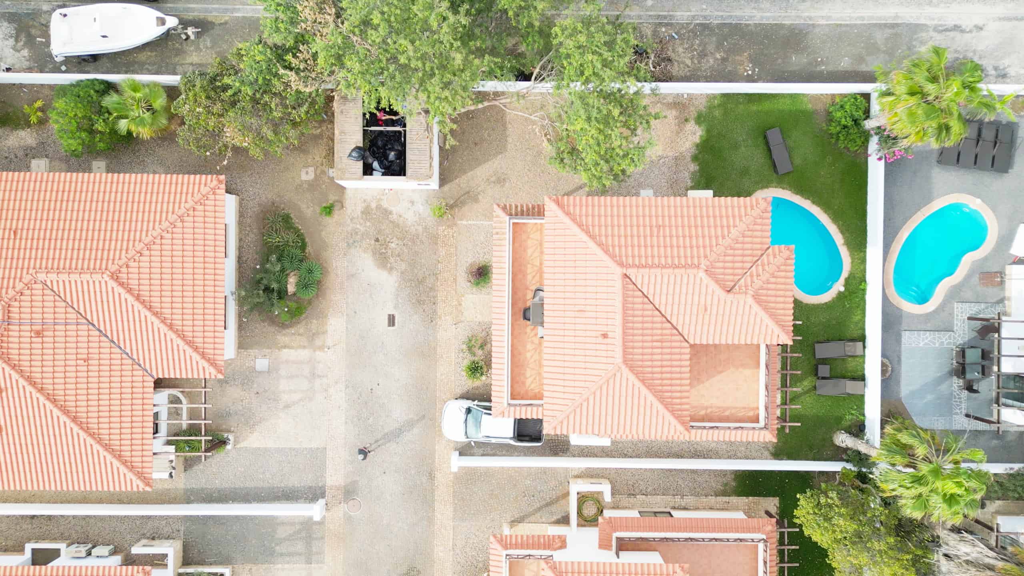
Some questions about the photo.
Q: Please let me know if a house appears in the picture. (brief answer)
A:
Yes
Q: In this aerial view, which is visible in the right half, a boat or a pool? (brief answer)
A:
pool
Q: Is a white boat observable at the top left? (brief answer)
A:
Yes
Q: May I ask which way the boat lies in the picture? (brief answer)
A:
from left to right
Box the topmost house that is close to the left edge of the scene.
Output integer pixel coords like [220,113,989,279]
[0,172,241,493]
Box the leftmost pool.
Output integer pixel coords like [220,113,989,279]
[763,189,853,304]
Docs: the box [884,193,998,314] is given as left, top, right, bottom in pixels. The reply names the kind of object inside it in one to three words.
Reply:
swimming pool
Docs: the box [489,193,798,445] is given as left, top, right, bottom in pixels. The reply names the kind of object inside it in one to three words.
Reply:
house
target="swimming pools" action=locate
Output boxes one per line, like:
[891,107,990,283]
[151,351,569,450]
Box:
[884,193,998,314]
[763,189,853,304]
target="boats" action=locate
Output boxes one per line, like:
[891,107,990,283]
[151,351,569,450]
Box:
[51,3,178,56]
